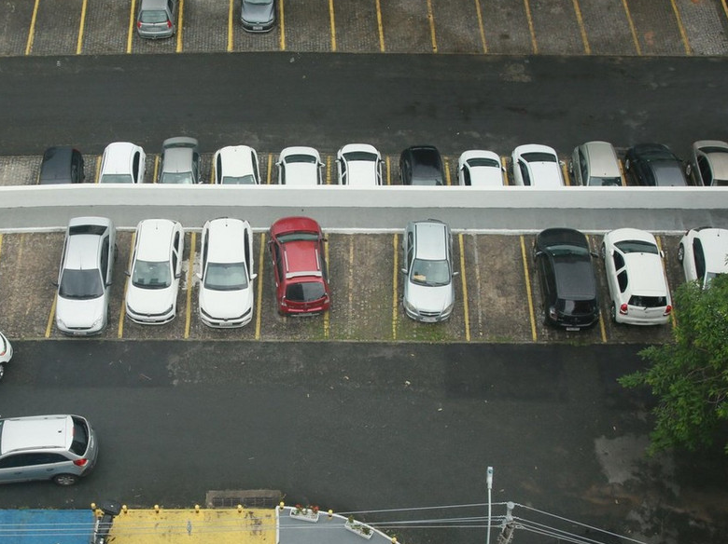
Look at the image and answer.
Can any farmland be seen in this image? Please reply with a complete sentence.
No, there is no farmland in the image.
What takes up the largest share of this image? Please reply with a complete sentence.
The bulk of the photo consists of paved ground.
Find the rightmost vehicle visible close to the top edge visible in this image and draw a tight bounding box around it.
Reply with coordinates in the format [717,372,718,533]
[238,0,276,30]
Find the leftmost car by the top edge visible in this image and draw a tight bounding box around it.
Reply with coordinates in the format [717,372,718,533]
[136,0,175,37]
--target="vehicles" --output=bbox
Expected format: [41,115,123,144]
[510,143,565,185]
[398,147,446,185]
[534,228,600,326]
[0,412,94,482]
[569,143,623,186]
[270,219,330,315]
[216,142,260,185]
[156,139,200,185]
[456,148,508,185]
[274,146,326,185]
[685,143,728,186]
[97,142,145,185]
[334,143,386,185]
[195,219,257,326]
[629,147,687,186]
[136,0,175,37]
[36,148,84,186]
[606,231,668,324]
[400,222,460,323]
[121,218,183,324]
[51,219,114,331]
[238,0,276,30]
